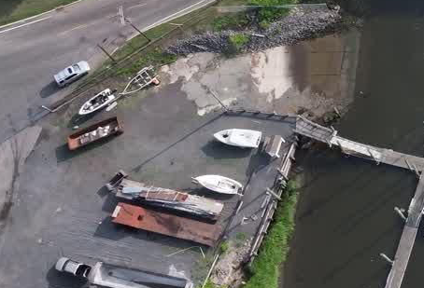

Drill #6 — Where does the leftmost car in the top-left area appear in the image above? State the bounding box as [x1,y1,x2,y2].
[50,62,89,89]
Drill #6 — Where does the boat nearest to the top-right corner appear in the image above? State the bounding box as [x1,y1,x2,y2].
[214,128,264,150]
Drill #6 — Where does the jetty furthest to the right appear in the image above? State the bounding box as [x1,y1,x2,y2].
[290,113,424,288]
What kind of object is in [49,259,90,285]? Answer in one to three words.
truck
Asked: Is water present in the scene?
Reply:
Yes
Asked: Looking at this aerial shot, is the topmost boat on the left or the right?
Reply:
left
